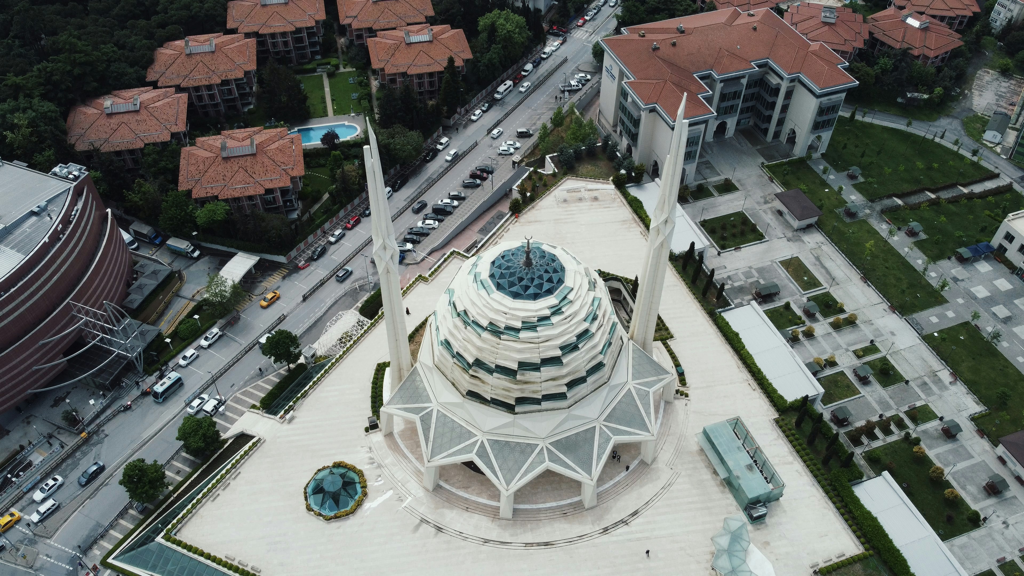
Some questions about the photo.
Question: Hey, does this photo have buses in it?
Yes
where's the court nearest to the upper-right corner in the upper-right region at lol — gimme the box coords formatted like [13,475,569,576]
[973,69,1024,119]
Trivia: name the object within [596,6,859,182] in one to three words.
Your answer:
building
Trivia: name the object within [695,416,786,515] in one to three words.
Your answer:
building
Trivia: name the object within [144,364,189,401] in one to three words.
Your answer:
bus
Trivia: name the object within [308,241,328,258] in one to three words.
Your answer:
car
